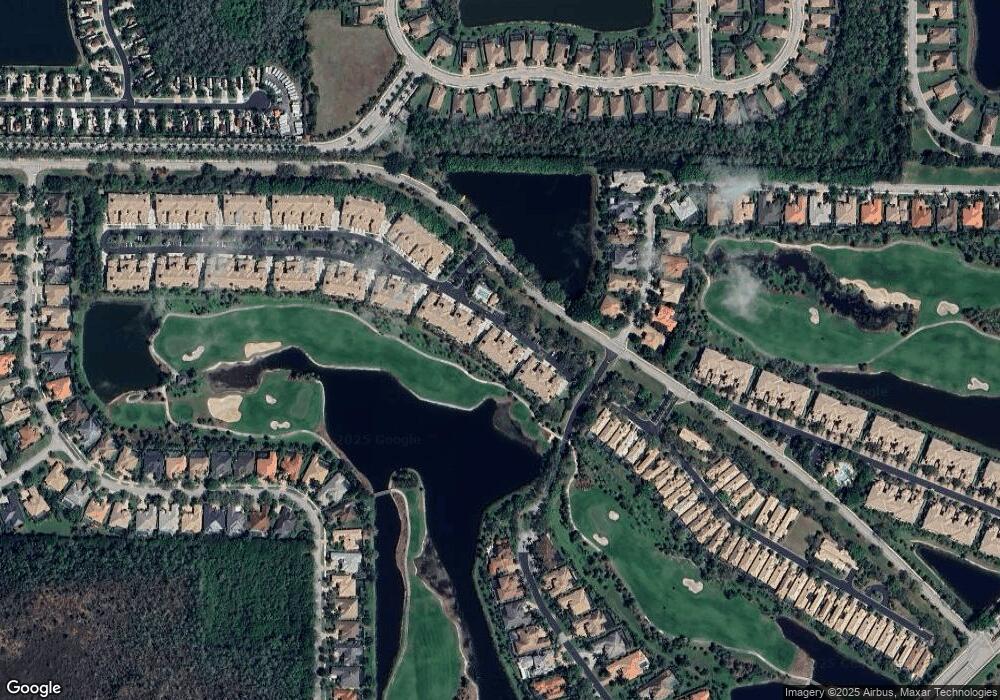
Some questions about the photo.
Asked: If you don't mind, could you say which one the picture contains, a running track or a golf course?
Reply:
golf course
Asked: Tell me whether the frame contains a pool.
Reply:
Yes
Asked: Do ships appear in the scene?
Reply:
No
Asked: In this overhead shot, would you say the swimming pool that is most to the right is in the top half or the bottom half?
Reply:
bottom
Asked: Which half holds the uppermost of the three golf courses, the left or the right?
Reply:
right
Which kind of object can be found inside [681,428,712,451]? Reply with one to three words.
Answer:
building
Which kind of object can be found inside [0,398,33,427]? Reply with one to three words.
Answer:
house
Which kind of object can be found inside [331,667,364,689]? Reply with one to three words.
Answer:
house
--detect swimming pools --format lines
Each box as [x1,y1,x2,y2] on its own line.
[473,285,493,306]
[831,462,854,484]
